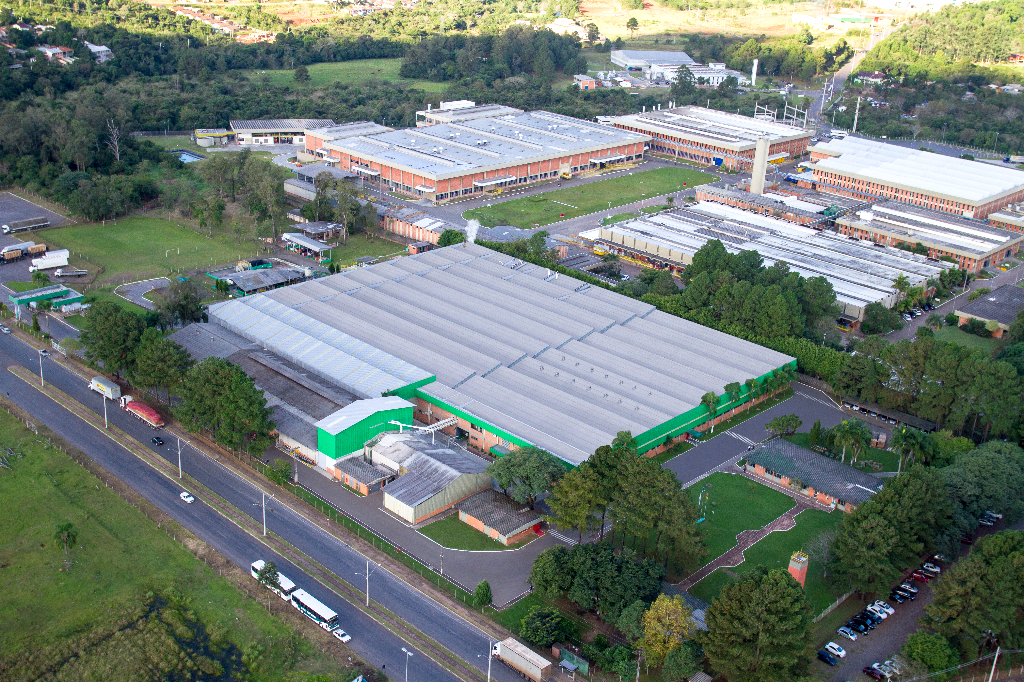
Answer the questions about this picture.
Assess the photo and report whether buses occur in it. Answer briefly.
Yes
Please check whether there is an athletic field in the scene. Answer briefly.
Yes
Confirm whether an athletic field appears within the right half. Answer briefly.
No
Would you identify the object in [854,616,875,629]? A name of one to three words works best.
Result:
vehicle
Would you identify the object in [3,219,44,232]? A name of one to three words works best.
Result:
vehicle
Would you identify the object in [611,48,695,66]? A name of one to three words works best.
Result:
building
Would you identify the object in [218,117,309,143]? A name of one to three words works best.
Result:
building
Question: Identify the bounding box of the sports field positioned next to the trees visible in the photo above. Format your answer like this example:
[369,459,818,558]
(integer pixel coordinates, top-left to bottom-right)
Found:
[22,216,249,280]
